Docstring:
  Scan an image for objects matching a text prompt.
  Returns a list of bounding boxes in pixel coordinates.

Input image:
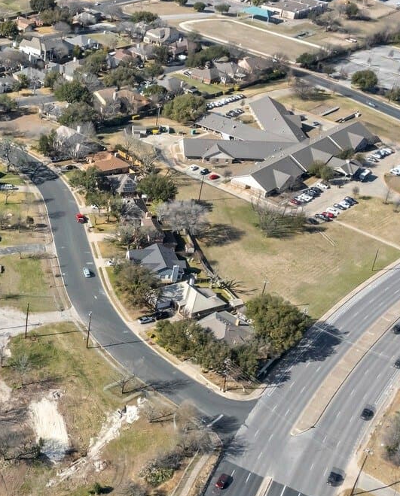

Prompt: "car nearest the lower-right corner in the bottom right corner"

[326,468,342,488]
